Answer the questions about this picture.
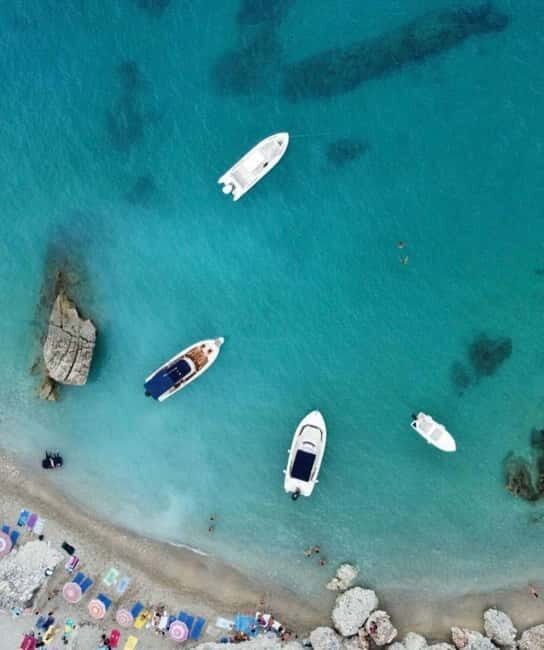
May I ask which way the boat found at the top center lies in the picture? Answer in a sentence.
In this picture, the boat found at the top center lies on a diagonal.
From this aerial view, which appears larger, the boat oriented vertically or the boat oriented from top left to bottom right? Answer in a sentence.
Of the two, the boat oriented vertically is bigger, while the boat oriented from top left to bottom right is smaller.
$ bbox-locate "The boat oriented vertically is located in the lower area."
[285,409,326,500]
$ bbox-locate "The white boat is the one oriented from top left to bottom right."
[411,412,458,453]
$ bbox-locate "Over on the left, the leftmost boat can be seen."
[142,339,223,403]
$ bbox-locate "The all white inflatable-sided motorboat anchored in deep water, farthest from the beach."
[218,130,303,200]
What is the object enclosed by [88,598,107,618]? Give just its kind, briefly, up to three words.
umbrella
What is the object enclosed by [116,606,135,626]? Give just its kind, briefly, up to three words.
umbrella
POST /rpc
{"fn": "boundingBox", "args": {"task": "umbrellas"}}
[88,598,107,618]
[169,618,190,640]
[0,532,13,555]
[116,606,135,626]
[62,581,83,602]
